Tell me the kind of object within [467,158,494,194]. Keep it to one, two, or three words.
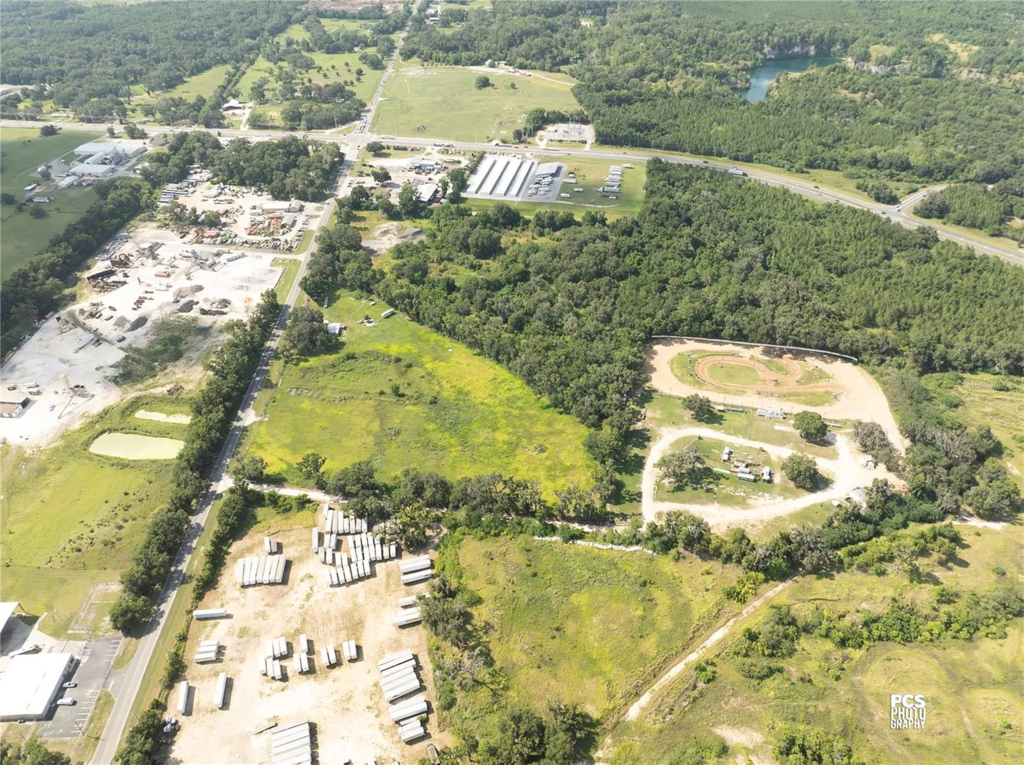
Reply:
building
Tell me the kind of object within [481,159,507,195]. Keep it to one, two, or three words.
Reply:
building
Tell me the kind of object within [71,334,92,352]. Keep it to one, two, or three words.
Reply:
vehicle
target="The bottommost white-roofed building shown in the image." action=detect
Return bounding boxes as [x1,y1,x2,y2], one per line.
[0,652,79,724]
